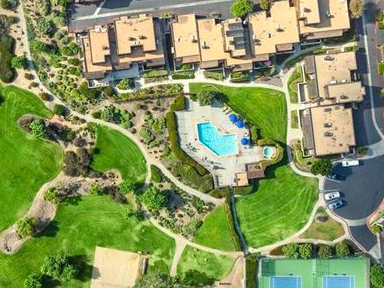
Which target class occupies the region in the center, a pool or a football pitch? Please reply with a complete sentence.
There is a pool in the center.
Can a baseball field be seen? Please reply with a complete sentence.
No, the frame has no baseball field in it.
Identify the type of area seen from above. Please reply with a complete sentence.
The area seen from above is a residential area.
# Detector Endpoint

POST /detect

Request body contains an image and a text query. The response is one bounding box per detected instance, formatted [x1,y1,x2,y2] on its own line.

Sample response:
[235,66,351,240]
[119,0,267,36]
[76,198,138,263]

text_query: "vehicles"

[329,199,344,208]
[341,160,360,167]
[324,191,338,199]
[327,173,342,180]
